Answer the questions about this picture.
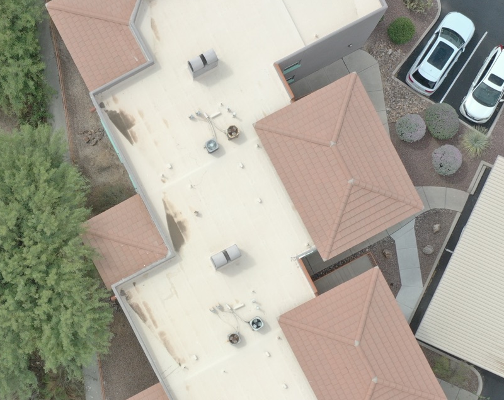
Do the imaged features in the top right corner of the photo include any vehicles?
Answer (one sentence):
Yes, you'll find a vehicle in the top right corner of the photo.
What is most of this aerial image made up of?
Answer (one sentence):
The largest share of the image is taken up by buildings.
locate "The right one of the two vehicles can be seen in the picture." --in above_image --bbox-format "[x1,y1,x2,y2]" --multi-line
[459,45,504,129]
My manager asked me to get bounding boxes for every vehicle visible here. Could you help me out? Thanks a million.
[404,12,472,103]
[459,45,504,129]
